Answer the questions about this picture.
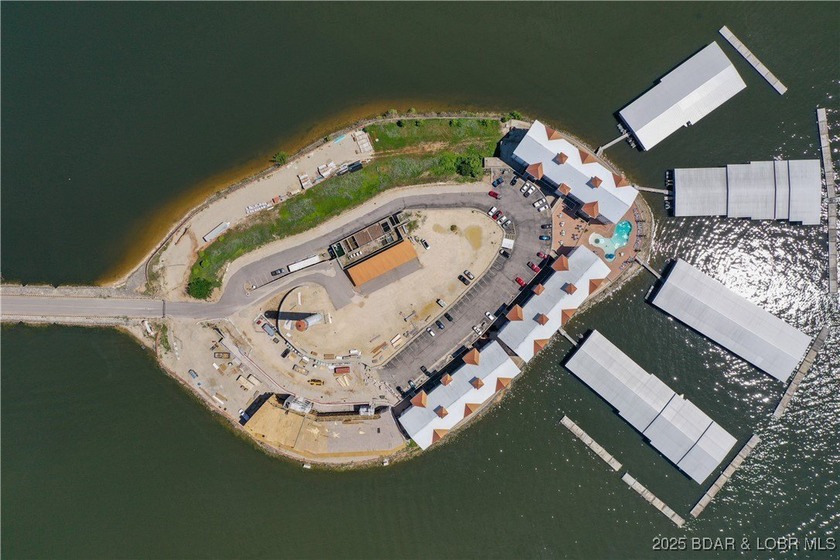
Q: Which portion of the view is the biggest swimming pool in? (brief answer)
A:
right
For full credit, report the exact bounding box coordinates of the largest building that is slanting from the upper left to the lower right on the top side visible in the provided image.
[513,121,638,224]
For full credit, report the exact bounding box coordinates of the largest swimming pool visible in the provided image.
[589,220,633,262]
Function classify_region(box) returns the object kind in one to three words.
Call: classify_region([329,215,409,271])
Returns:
building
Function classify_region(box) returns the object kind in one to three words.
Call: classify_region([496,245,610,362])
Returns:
building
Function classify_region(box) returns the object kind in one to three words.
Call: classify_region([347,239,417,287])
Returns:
shed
